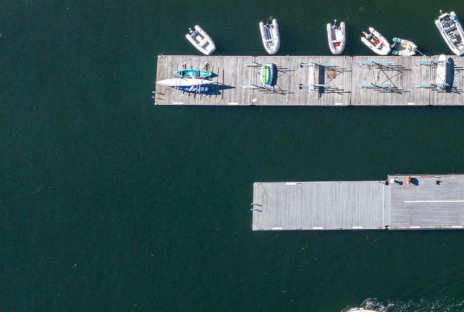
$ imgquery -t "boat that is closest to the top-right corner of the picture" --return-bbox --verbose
[435,6,464,56]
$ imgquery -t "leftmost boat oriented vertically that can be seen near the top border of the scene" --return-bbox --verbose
[259,14,279,54]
